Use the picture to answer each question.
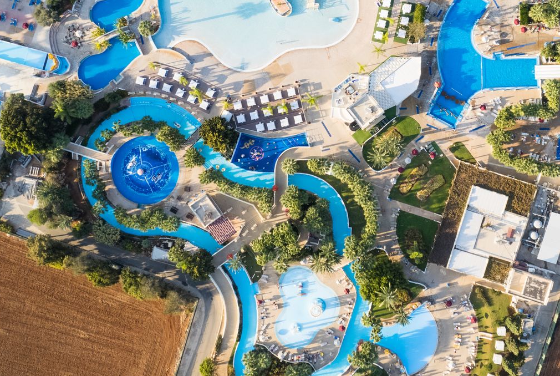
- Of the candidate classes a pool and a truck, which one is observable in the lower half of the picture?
pool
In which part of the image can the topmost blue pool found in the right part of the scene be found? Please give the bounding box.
[424,0,543,132]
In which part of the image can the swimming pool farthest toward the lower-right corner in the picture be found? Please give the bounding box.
[363,300,440,376]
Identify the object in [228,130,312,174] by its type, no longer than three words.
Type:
swimming pool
